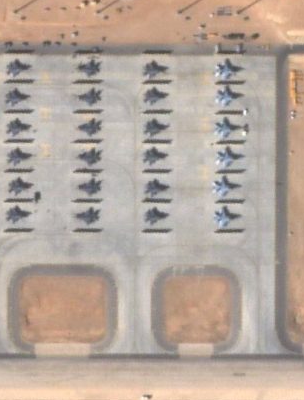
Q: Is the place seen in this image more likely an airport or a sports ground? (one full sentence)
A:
The area seen from above is an airport.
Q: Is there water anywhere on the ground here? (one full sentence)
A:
No, the picture contains no water.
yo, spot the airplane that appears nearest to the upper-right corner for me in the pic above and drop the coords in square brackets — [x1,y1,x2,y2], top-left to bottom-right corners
[215,65,238,81]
